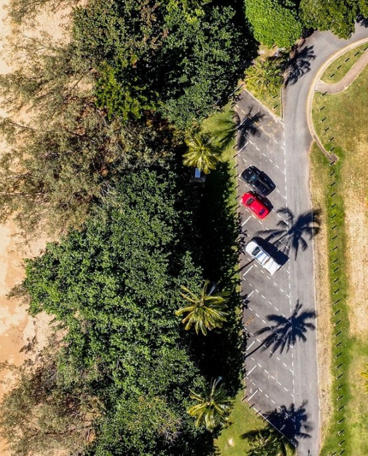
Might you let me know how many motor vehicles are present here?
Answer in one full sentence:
My tally gives 3 motor vehicles in this view.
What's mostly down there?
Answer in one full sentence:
The scene is dominated by trees.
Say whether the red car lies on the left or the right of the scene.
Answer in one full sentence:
The red car sits on the right side.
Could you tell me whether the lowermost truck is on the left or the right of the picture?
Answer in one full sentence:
The lowermost truck is on the right side of the image.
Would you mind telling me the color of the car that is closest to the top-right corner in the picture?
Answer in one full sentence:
The car that is closest to the top-right corner is black.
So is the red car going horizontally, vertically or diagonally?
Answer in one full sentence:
Seen from above, the red car lies diagonally.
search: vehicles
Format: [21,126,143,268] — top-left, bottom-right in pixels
[239,191,271,220]
[241,164,275,198]
[245,239,284,277]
